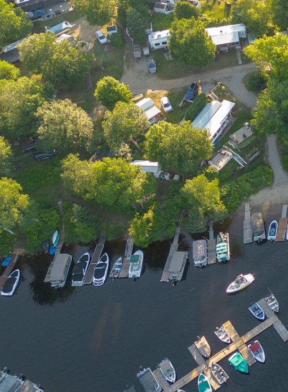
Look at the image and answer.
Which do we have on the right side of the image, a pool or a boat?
boat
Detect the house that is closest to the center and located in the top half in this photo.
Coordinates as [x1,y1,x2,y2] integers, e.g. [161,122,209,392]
[134,97,165,128]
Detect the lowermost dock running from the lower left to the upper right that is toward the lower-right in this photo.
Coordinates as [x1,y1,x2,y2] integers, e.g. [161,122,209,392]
[158,314,280,392]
